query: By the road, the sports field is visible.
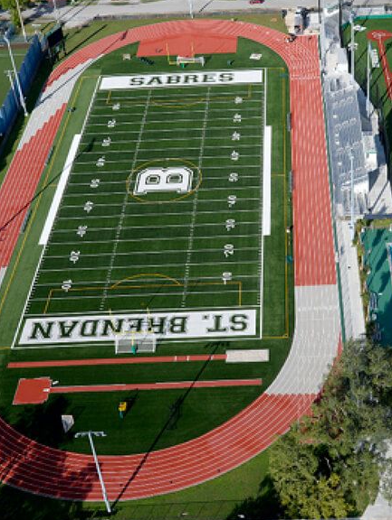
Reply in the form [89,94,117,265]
[14,69,267,346]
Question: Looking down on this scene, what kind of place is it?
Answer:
sports ground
